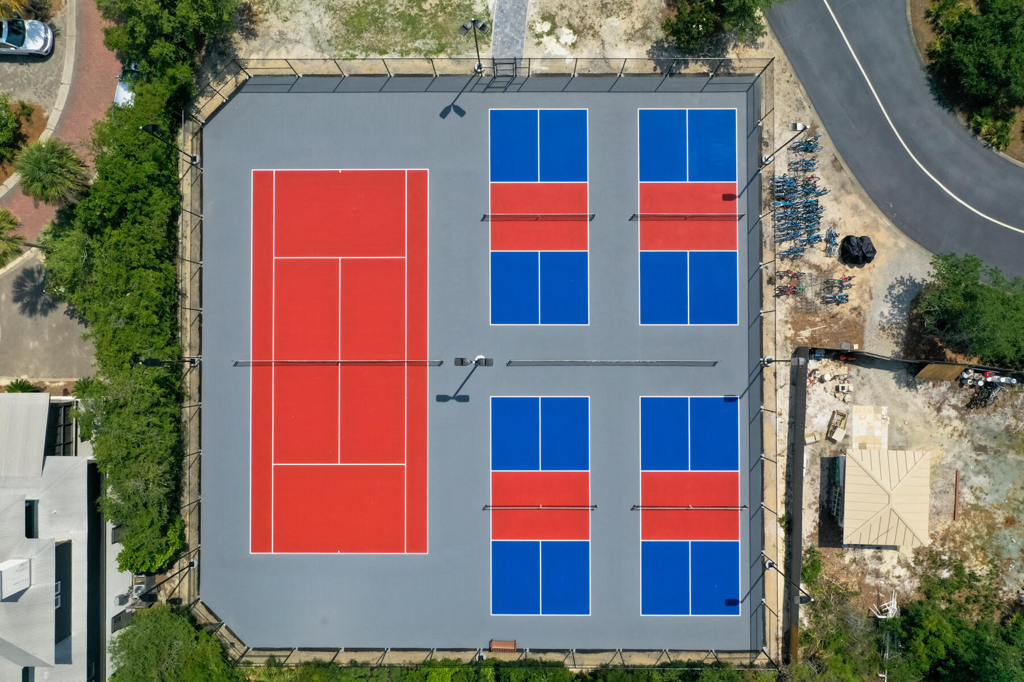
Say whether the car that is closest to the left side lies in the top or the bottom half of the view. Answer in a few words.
top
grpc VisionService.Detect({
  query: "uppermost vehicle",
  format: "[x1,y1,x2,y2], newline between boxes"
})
[0,18,56,56]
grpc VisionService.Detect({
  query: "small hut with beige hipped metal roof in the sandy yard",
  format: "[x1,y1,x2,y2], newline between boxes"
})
[831,449,931,548]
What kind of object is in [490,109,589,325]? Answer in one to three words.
sports court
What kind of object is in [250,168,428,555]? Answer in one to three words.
tennis court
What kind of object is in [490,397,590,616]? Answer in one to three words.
sports court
